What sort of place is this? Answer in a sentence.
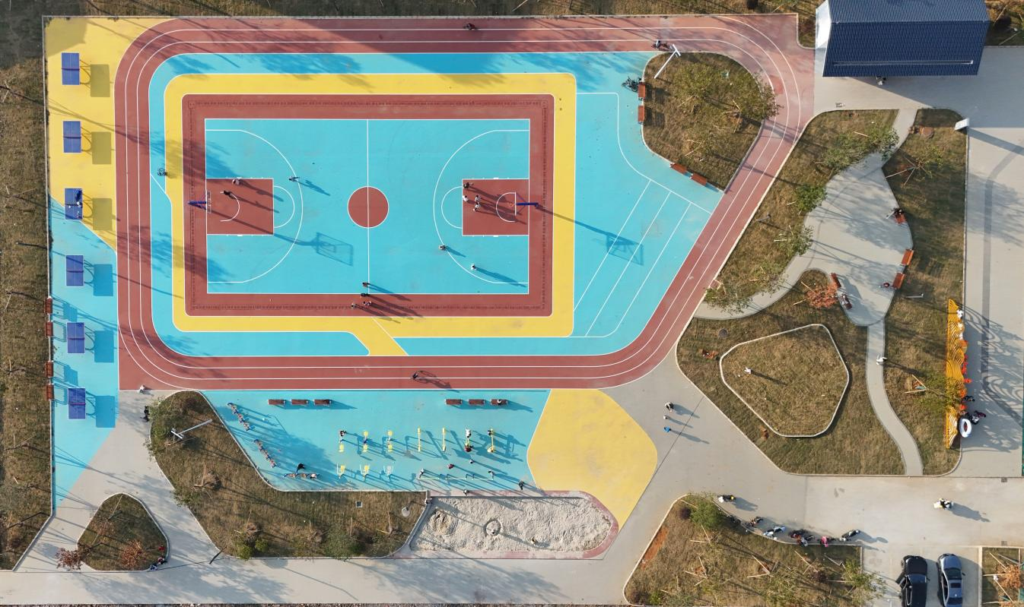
This image shows a sports ground.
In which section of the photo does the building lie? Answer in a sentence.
Look in the top right portion of the view to spot the building.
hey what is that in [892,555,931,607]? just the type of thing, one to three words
car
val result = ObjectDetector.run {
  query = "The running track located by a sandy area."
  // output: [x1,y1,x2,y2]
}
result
[114,14,814,392]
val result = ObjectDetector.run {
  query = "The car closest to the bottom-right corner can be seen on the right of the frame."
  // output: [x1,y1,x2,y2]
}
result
[934,554,966,607]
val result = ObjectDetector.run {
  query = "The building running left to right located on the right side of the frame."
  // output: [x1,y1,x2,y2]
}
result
[816,0,989,76]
